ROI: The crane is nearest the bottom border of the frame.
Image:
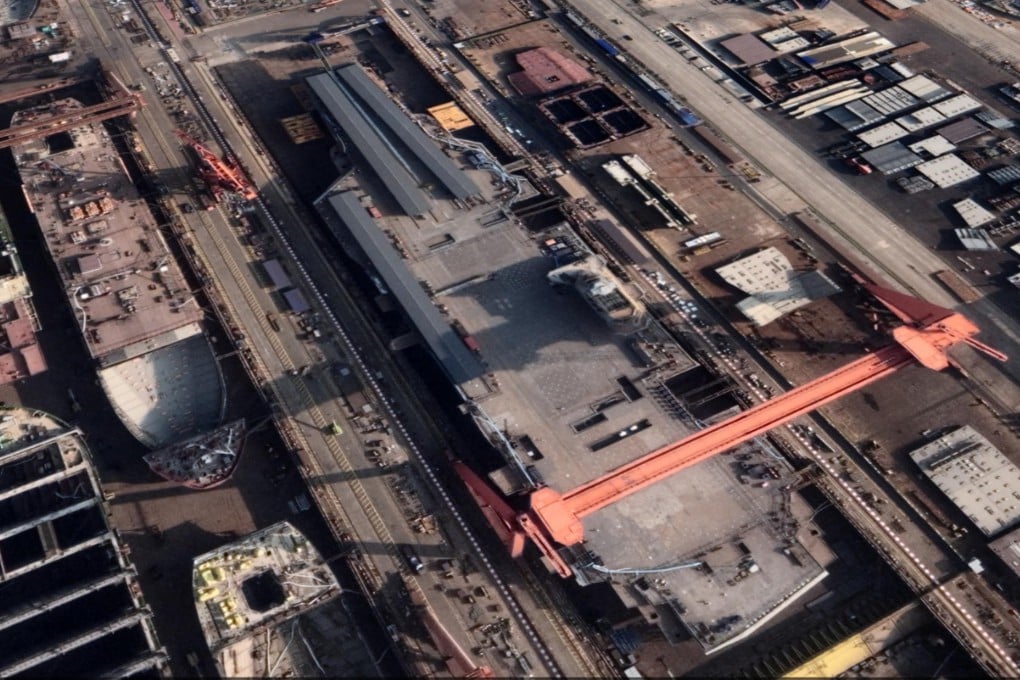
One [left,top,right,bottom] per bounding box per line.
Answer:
[405,577,495,680]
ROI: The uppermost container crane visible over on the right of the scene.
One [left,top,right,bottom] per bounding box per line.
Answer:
[440,259,1014,590]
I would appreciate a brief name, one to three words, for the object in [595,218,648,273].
shed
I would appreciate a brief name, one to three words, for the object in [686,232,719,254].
bus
